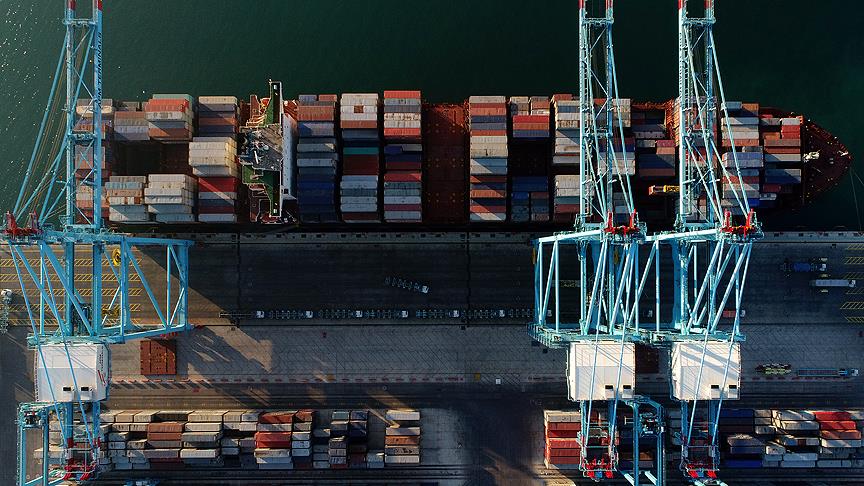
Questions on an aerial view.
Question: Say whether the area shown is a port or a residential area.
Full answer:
The area seen from above is a port.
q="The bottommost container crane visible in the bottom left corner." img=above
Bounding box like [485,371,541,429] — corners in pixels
[11,395,83,486]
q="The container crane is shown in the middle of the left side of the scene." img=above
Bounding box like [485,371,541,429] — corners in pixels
[6,0,203,483]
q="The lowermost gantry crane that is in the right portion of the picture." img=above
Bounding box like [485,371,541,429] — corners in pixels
[615,395,666,486]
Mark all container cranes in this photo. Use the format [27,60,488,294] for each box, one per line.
[599,0,764,483]
[518,0,647,483]
[11,395,83,486]
[615,395,666,486]
[6,0,203,483]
